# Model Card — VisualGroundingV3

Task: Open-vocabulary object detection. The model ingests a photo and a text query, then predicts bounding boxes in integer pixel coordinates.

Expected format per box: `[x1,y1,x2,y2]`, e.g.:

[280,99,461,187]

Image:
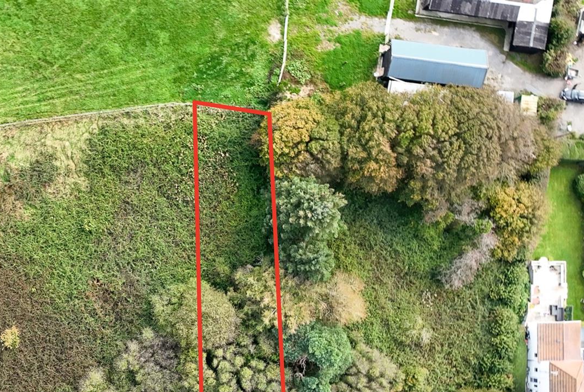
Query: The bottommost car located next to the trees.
[564,87,584,103]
